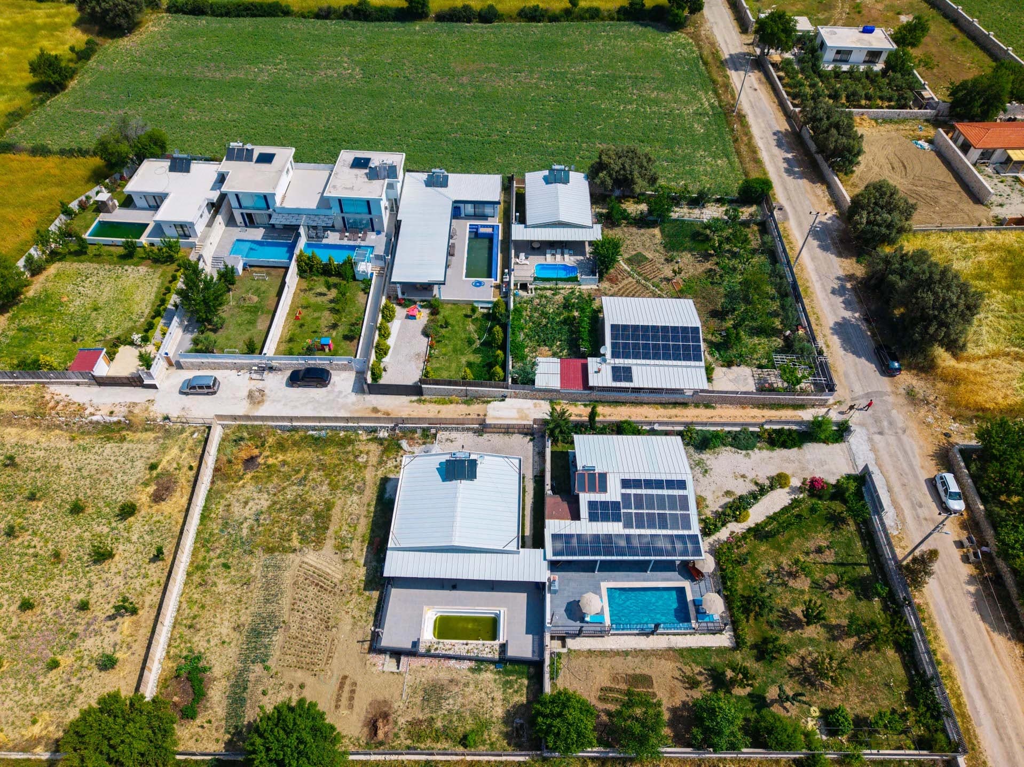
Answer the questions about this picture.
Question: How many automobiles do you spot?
4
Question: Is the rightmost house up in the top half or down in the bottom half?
top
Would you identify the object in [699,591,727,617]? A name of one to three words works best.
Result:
umbrella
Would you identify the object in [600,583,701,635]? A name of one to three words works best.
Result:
swimming pool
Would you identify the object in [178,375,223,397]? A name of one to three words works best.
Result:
car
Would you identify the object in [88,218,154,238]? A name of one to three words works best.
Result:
swimming pool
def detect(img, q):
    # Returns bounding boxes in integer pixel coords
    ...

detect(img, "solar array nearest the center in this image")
[615,365,637,381]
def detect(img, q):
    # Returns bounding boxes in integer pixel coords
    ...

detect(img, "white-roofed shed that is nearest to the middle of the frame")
[535,357,561,389]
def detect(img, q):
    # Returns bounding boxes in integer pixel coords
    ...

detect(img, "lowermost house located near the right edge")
[952,120,1024,163]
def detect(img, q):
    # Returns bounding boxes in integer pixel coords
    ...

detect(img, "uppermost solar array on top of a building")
[612,325,705,358]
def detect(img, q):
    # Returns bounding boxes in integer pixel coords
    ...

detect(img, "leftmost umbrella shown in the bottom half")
[577,592,604,618]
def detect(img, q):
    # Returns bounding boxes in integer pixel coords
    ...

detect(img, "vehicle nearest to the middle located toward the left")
[288,368,333,389]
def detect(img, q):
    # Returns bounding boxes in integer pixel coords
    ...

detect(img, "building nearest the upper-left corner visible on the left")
[89,188,116,211]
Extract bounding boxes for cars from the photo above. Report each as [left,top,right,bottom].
[870,346,902,378]
[178,375,223,397]
[931,470,965,518]
[288,368,333,389]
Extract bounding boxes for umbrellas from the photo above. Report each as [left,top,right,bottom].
[577,592,604,618]
[693,554,717,575]
[699,591,727,617]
